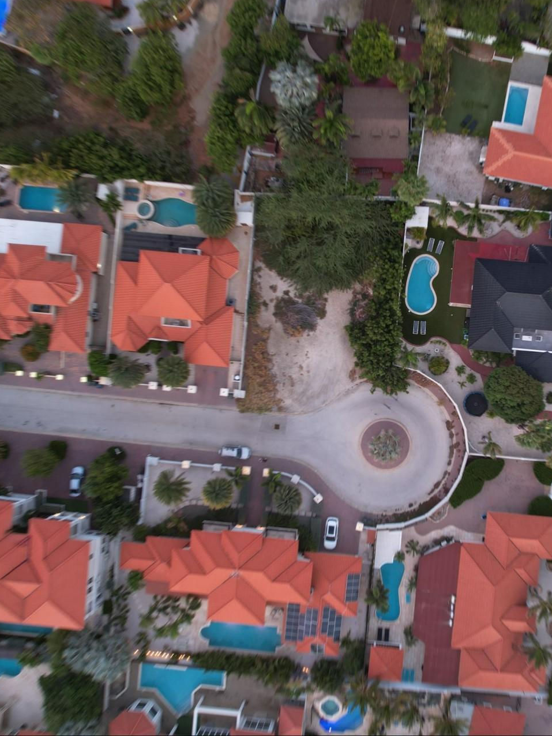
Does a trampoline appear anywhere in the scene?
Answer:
Yes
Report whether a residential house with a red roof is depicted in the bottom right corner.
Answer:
Yes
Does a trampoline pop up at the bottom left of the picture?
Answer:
No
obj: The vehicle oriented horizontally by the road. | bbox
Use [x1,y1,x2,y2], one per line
[218,445,251,462]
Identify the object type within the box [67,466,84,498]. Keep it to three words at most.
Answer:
car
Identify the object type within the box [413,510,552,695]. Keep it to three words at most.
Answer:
house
